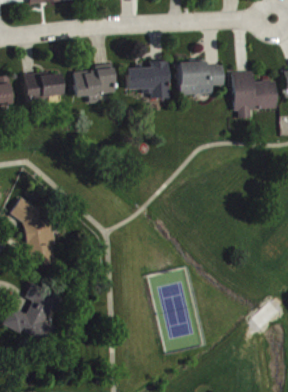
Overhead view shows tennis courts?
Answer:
Yes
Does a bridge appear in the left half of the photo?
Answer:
No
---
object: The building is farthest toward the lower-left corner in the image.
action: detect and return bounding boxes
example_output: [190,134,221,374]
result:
[0,289,50,336]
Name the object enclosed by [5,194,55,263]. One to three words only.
house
